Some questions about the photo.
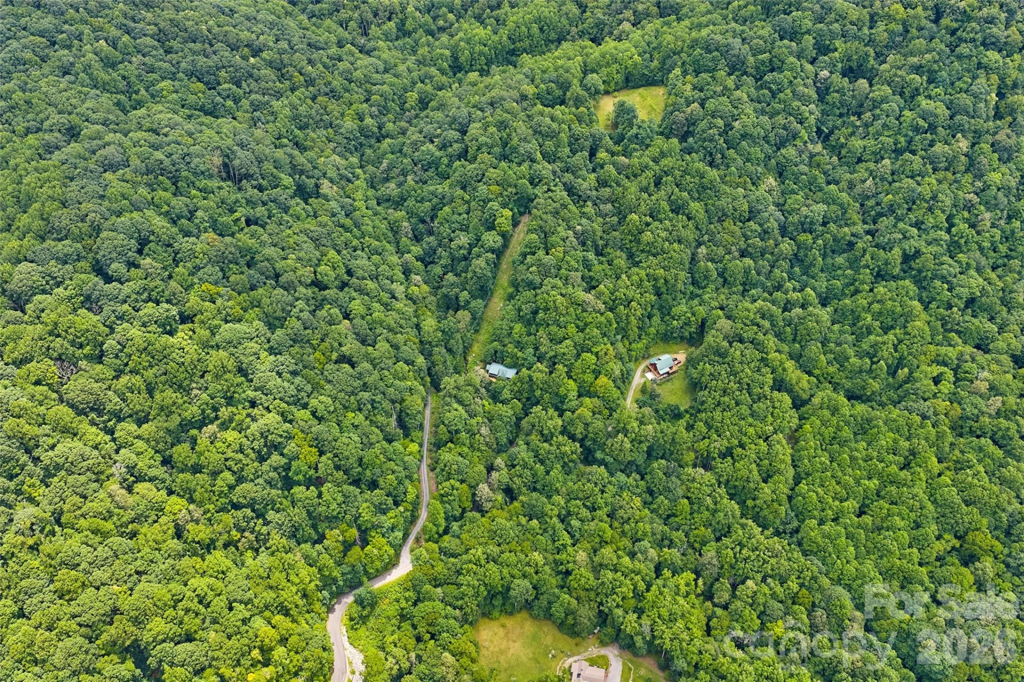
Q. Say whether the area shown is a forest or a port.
forest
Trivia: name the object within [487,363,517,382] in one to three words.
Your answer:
building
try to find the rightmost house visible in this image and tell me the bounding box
[648,354,685,380]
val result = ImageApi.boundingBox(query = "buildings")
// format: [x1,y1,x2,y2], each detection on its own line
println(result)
[648,354,685,380]
[571,659,607,682]
[487,363,517,382]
